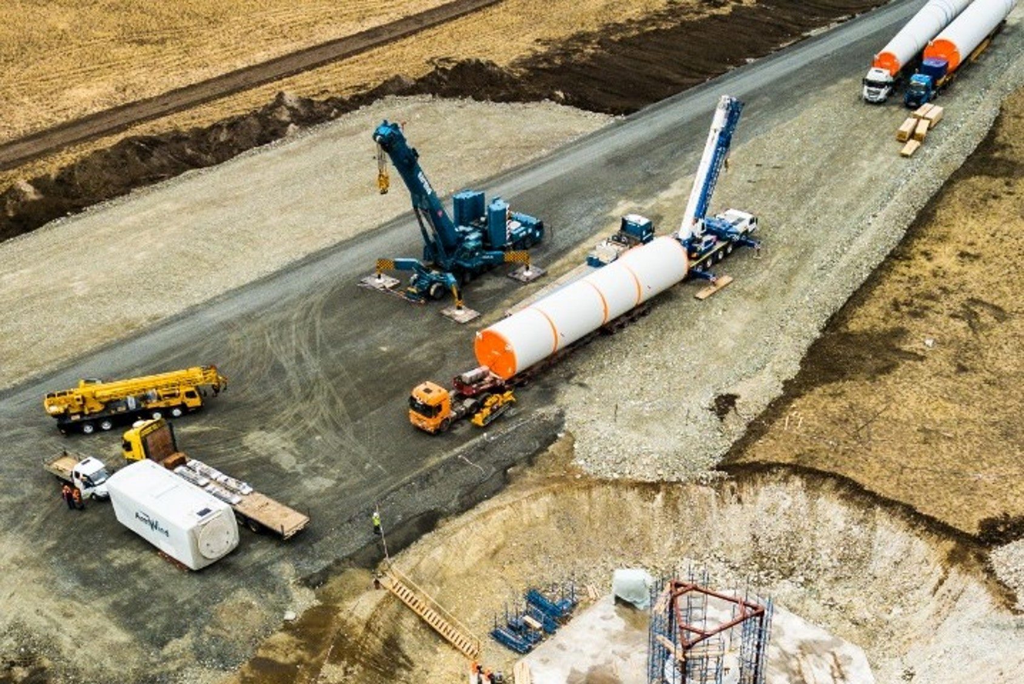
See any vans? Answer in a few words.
Yes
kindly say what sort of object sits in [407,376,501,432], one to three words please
truck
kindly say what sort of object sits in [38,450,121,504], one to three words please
van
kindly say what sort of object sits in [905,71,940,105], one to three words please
truck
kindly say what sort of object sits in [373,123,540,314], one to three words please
crane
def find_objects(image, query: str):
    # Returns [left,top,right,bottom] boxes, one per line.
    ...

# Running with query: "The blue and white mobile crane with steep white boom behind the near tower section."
[677,95,760,284]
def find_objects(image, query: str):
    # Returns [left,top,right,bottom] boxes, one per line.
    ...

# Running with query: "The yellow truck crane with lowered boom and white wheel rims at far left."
[48,361,227,434]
